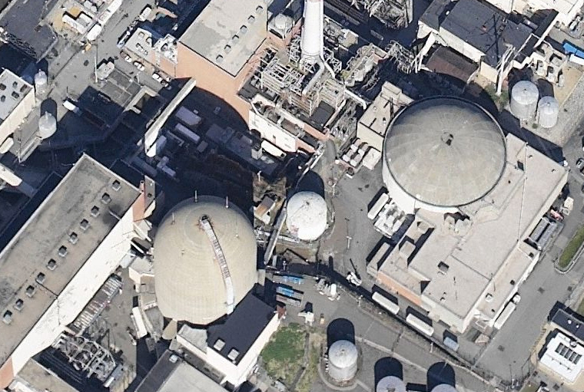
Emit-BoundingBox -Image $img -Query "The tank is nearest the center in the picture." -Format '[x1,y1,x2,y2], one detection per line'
[284,194,329,245]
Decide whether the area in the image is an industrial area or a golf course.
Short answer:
industrial area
